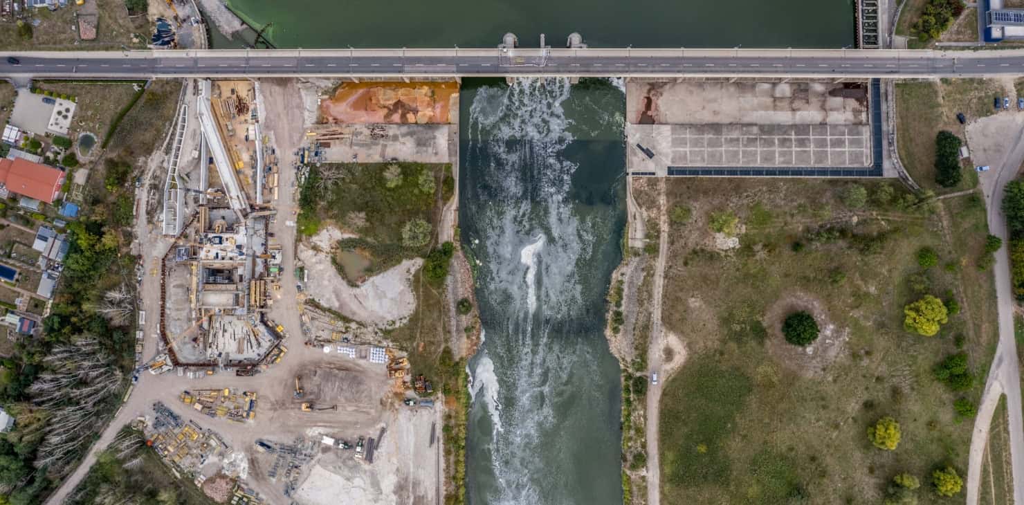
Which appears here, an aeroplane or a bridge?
bridge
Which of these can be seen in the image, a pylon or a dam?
dam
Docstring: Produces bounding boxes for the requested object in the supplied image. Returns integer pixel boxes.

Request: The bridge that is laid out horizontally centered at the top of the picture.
[149,46,939,82]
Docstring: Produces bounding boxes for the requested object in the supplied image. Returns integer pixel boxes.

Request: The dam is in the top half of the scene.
[301,34,870,244]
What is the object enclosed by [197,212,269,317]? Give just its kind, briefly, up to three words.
building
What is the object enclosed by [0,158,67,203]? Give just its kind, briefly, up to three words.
house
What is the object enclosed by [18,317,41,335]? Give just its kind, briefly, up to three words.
house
